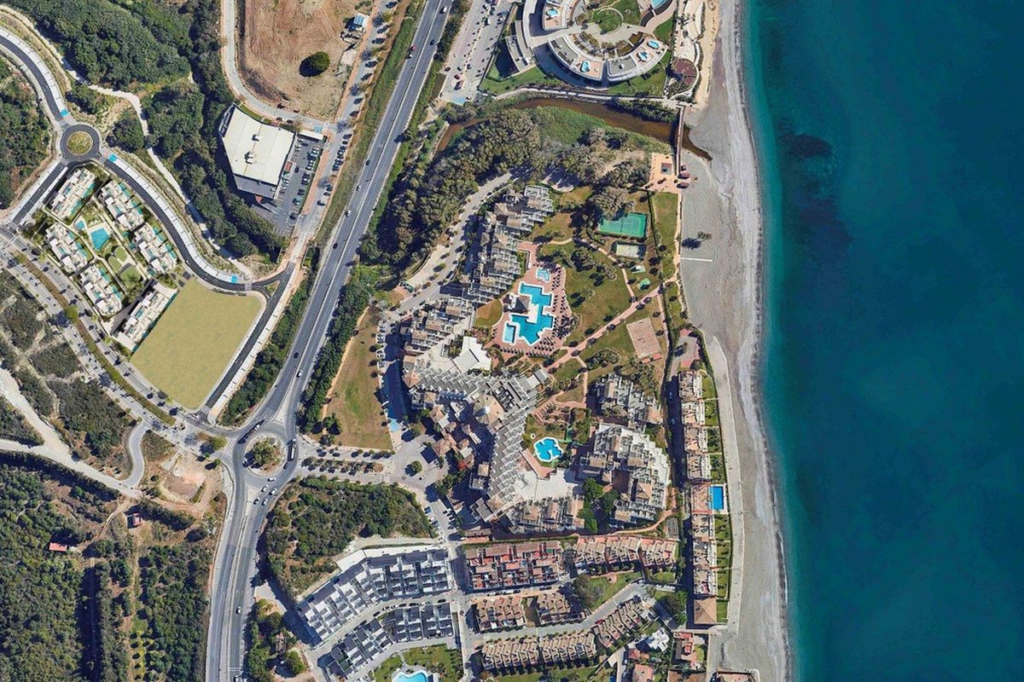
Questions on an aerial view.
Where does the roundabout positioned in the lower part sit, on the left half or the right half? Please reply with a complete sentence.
It is on the left.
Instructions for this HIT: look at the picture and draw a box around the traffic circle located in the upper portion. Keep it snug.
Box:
[57,119,103,165]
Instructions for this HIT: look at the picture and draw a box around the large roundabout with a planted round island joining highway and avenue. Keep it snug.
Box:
[230,419,299,489]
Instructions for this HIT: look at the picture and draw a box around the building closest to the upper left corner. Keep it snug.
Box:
[50,167,101,227]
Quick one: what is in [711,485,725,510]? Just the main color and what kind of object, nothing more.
blue swimming pool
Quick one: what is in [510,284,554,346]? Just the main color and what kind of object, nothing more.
blue swimming pool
